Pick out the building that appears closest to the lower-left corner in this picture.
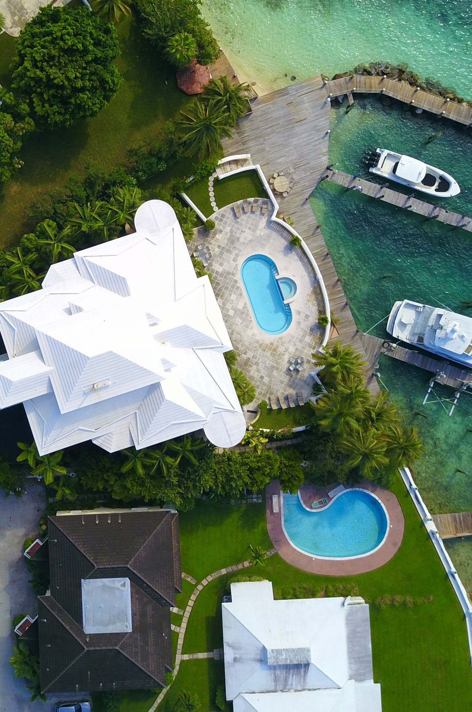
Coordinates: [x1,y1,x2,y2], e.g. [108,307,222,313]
[14,507,182,695]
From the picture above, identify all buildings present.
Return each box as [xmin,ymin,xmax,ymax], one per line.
[14,507,182,695]
[0,198,248,457]
[222,579,373,700]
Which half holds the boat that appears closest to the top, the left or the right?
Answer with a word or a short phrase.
right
